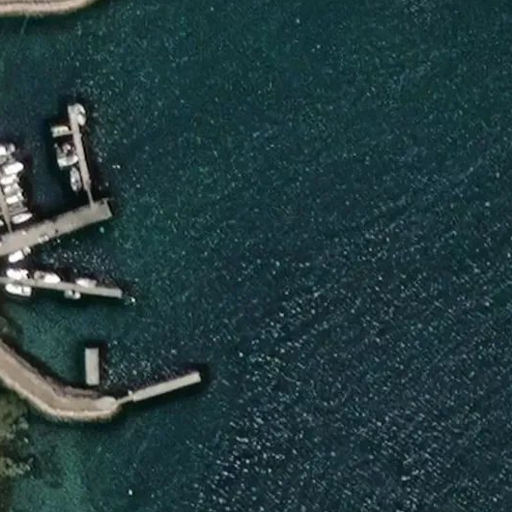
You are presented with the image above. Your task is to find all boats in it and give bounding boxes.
[50,127,69,137]
[7,203,27,214]
[5,193,25,204]
[0,144,16,155]
[76,278,99,287]
[76,106,89,128]
[69,164,82,190]
[54,143,74,153]
[32,270,61,283]
[1,184,23,194]
[1,163,24,176]
[56,155,78,167]
[62,290,80,299]
[7,268,31,280]
[6,283,34,296]
[0,173,19,185]
[10,213,34,224]
[0,154,16,164]
[9,245,31,261]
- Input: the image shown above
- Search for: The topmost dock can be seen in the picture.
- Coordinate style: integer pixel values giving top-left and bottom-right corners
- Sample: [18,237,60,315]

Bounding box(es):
[52,105,91,188]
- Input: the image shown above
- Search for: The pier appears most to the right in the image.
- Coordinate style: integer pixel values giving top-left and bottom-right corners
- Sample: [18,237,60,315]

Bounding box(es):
[133,372,200,401]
